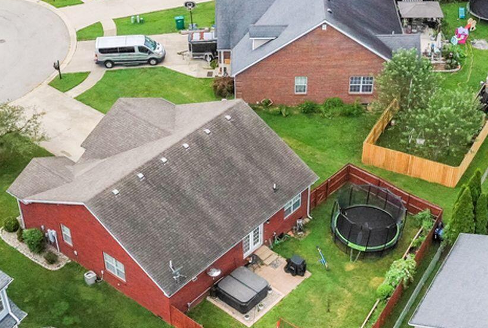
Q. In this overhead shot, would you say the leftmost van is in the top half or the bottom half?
top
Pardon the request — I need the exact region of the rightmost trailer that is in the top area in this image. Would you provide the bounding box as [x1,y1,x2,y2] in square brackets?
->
[174,37,222,62]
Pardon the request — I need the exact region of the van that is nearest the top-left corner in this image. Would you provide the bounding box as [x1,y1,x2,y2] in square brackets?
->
[93,38,165,72]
